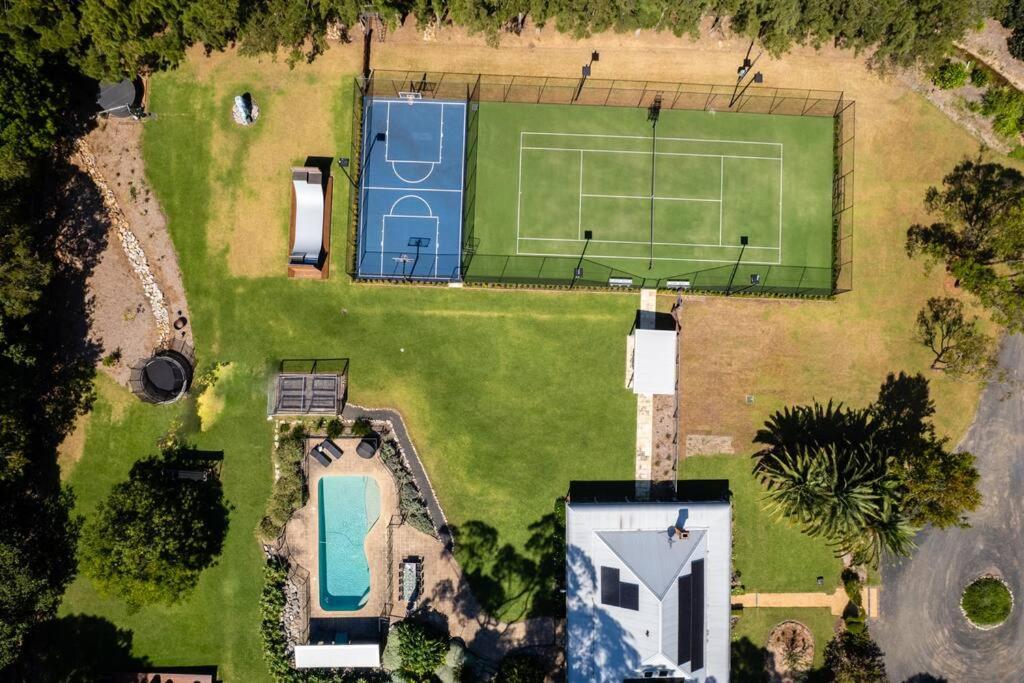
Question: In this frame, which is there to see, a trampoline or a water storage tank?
trampoline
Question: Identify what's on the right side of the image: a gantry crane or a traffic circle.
traffic circle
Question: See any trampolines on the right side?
No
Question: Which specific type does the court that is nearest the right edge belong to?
tennis court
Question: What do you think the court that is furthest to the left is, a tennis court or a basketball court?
basketball court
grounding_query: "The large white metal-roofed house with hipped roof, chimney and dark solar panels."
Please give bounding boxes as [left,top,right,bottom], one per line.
[565,497,731,683]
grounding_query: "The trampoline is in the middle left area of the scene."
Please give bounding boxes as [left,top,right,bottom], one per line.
[128,356,190,406]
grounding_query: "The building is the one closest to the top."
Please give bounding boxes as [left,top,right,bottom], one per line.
[627,326,677,394]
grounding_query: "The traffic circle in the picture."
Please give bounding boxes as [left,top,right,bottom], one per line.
[959,575,1015,629]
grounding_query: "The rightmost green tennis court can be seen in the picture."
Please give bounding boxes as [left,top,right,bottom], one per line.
[461,99,834,294]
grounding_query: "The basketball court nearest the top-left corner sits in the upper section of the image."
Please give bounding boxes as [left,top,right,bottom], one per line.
[356,96,467,281]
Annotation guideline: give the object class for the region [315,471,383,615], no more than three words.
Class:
swimming pool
